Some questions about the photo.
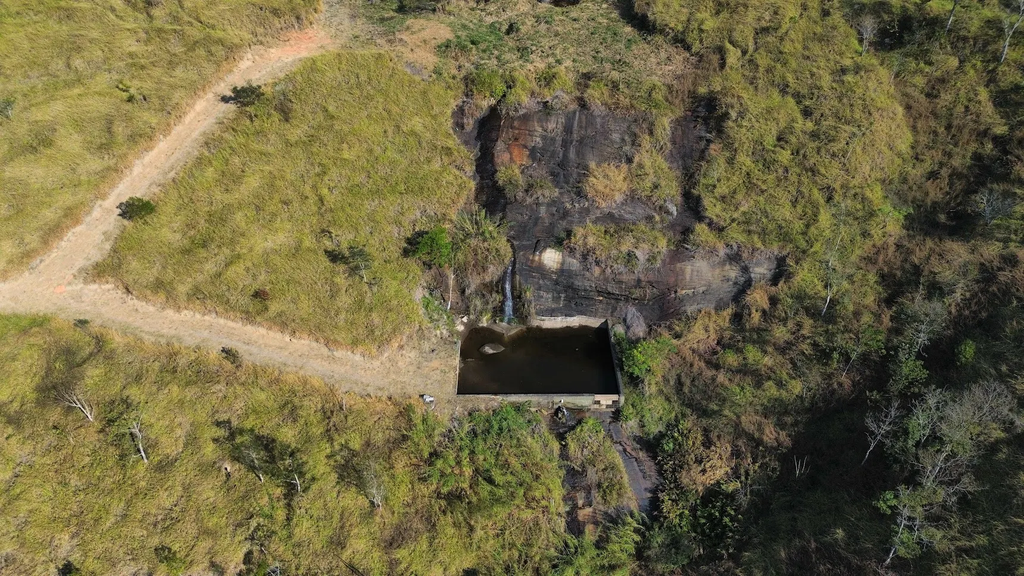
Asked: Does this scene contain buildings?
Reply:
No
